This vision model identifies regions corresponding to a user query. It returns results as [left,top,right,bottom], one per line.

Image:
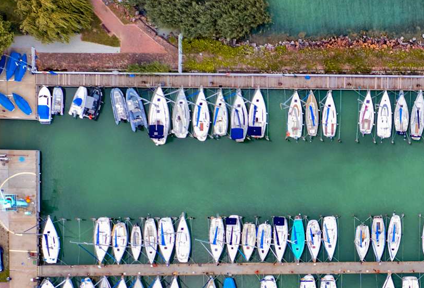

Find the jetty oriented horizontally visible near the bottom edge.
[41,262,424,278]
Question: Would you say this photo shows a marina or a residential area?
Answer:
marina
